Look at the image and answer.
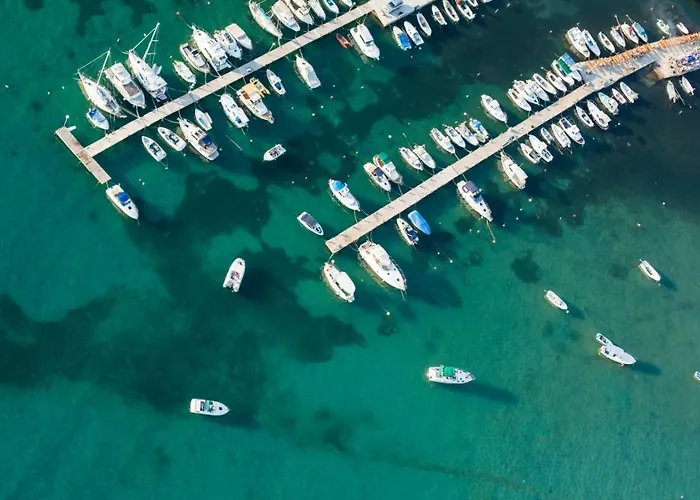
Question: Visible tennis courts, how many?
0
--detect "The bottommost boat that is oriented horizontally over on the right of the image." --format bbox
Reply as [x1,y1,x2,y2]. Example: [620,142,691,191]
[421,366,479,385]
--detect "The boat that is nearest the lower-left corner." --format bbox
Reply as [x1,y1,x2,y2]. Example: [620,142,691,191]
[187,399,230,416]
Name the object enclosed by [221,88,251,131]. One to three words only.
boat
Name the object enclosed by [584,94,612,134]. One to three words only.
boat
